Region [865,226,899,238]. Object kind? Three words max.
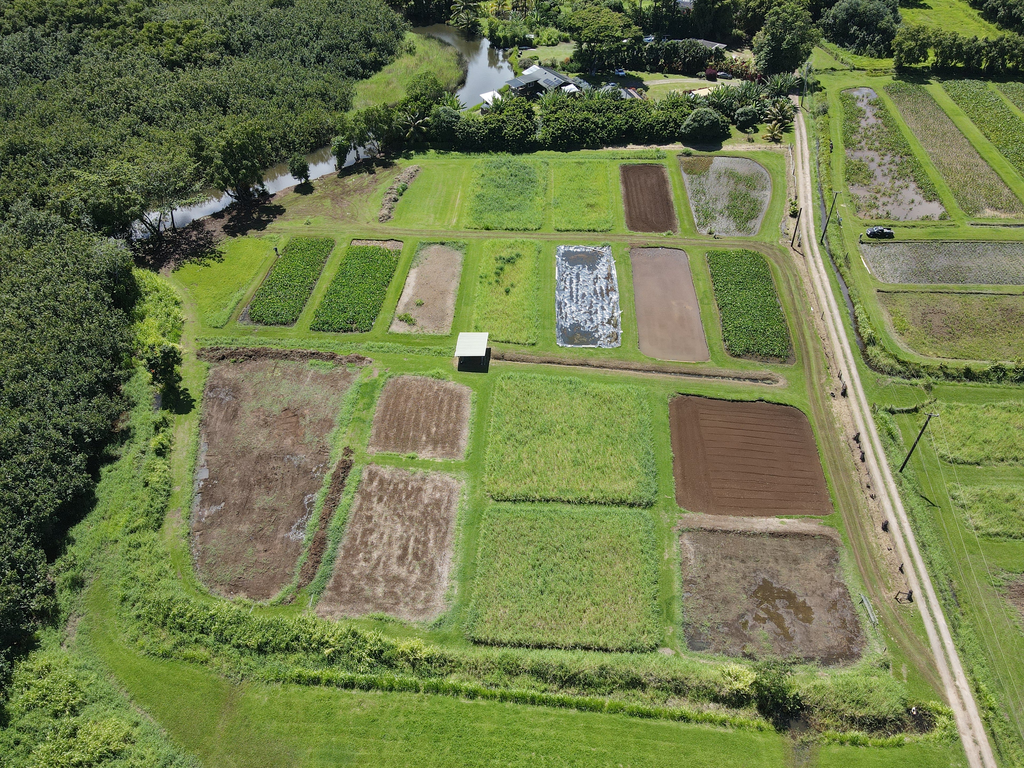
vehicle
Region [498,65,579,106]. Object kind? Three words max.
house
